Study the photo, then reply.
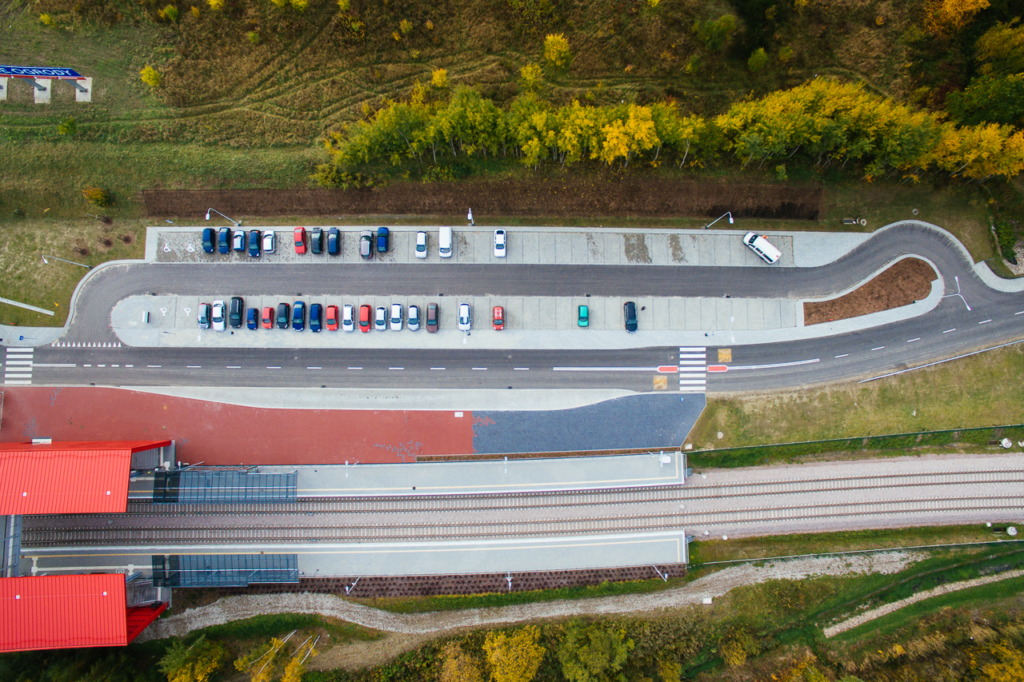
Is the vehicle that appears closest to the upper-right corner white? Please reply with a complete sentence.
Yes, the vehicle that appears closest to the upper-right corner is white.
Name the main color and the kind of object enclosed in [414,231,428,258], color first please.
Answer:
white car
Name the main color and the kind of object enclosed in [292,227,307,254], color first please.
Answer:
red car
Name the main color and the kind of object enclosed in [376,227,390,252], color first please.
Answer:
blue car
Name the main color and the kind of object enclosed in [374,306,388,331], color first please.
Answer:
white car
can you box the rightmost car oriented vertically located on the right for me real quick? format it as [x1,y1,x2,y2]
[624,301,639,333]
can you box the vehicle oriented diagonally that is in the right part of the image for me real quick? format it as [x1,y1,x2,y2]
[742,234,781,265]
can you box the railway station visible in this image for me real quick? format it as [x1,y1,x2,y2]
[0,439,167,646]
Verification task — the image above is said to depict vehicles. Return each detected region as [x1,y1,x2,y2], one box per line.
[247,229,262,257]
[359,230,374,258]
[742,234,781,265]
[195,303,212,329]
[457,302,472,331]
[324,305,339,331]
[261,230,277,253]
[624,301,639,333]
[406,305,420,331]
[326,227,341,256]
[201,228,216,253]
[292,227,307,254]
[389,303,403,331]
[275,303,290,329]
[374,306,388,331]
[231,230,247,251]
[357,305,372,332]
[245,308,260,330]
[341,304,355,332]
[425,303,439,333]
[309,228,324,254]
[227,297,244,329]
[217,227,233,254]
[210,300,227,331]
[308,304,324,333]
[438,226,452,258]
[376,227,390,252]
[291,301,306,332]
[260,307,275,329]
[414,231,428,258]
